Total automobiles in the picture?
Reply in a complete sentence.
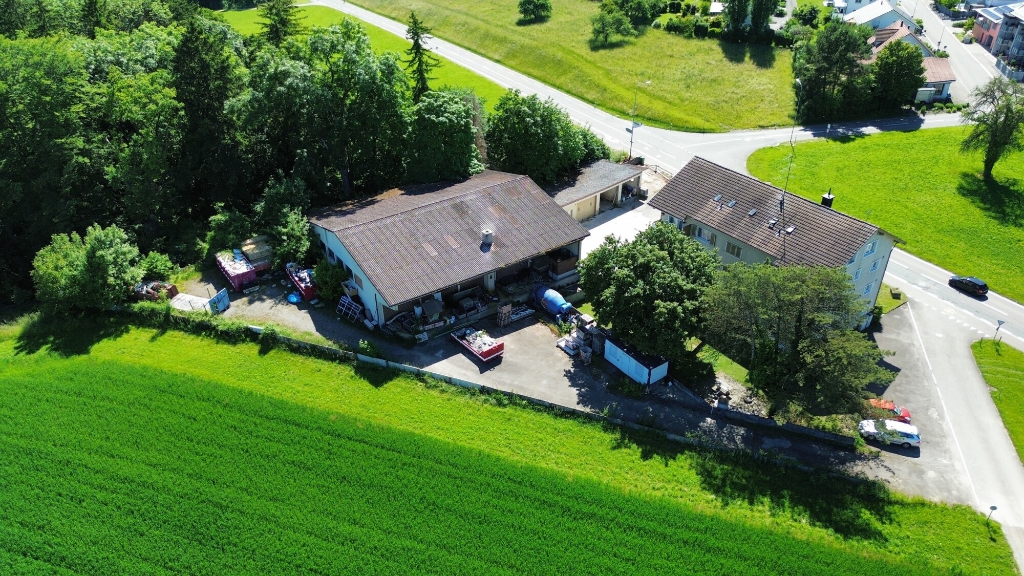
The number of automobiles here is 3.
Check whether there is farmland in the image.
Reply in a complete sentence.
Yes, the picture does contain farmland.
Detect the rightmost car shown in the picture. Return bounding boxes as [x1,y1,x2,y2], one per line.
[946,271,995,295]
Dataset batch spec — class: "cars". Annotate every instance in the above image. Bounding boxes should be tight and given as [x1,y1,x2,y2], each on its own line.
[860,415,922,447]
[946,271,995,295]
[862,400,915,422]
